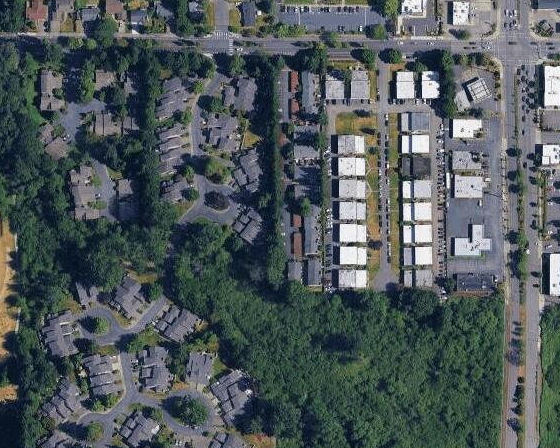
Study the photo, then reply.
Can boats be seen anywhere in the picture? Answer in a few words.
No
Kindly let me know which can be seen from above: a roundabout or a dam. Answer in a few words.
roundabout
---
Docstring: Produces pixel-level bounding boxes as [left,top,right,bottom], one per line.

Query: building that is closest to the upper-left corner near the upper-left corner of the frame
[26,0,48,20]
